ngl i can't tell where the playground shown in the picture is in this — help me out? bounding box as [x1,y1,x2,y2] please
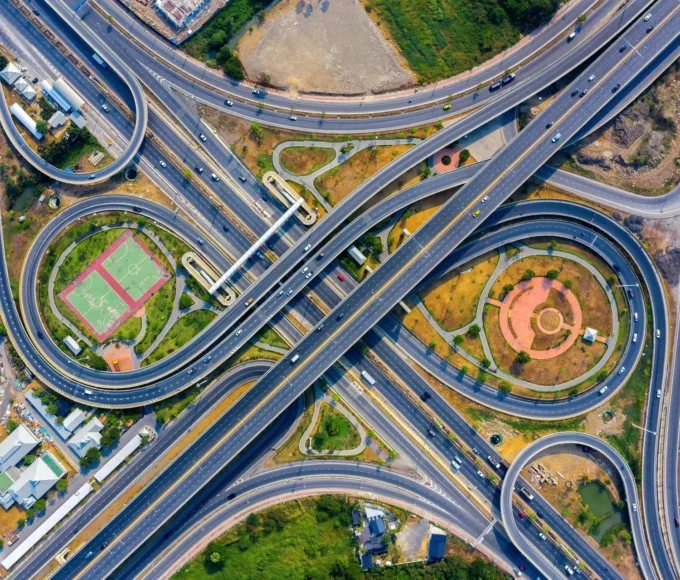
[104,344,134,371]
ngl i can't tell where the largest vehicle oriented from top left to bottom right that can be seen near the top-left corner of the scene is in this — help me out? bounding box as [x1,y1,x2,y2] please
[89,50,107,67]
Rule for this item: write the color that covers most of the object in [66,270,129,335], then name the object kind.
green sports court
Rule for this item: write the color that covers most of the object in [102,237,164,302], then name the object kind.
green sports court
